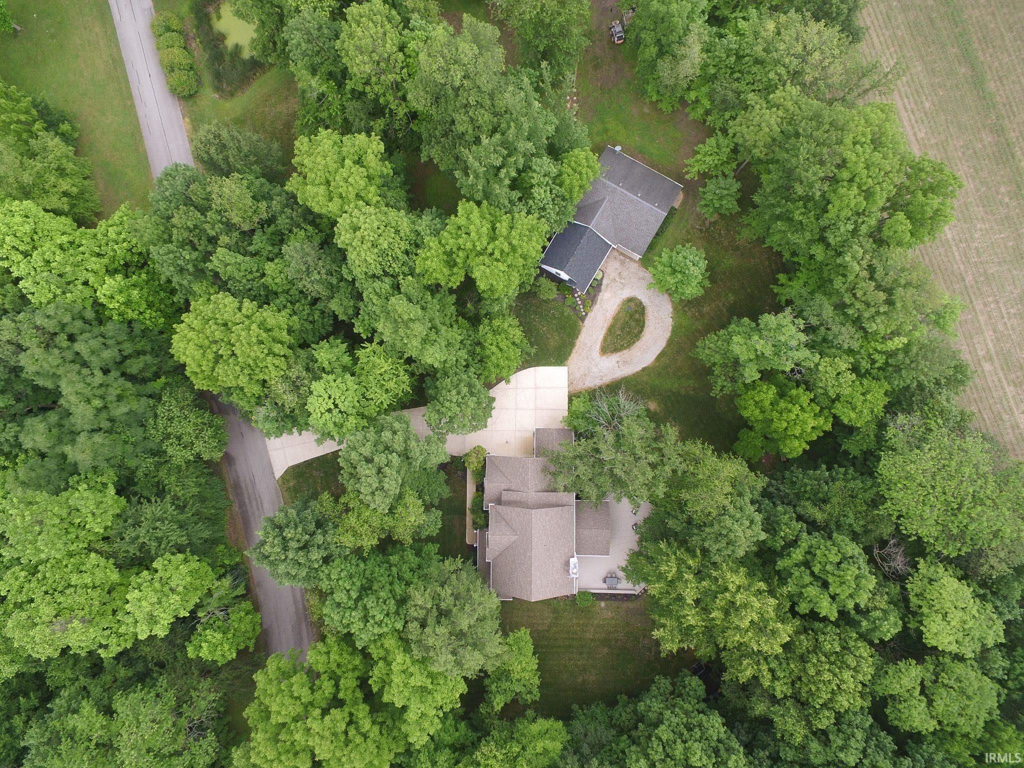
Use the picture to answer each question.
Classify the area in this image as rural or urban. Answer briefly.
rural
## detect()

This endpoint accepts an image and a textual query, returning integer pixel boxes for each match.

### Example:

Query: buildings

[476,427,612,602]
[541,144,684,294]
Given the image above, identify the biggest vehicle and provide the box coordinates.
[609,22,626,46]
